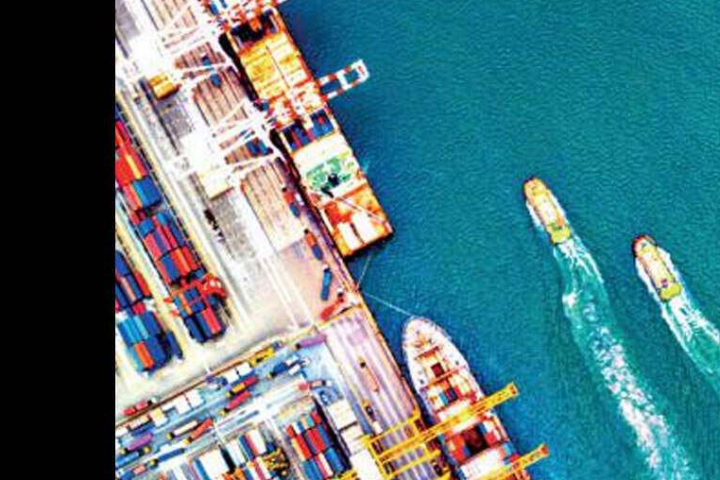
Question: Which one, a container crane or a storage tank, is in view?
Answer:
container crane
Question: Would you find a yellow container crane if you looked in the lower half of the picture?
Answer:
Yes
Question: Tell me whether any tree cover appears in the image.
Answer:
No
